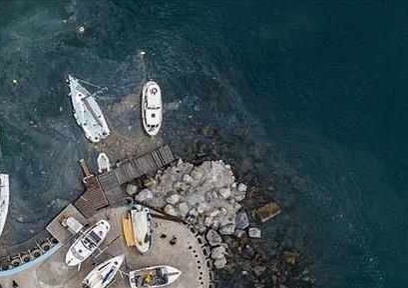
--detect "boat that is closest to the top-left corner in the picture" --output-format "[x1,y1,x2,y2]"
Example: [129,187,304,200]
[66,77,107,144]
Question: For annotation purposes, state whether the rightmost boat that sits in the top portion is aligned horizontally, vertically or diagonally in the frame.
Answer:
vertically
